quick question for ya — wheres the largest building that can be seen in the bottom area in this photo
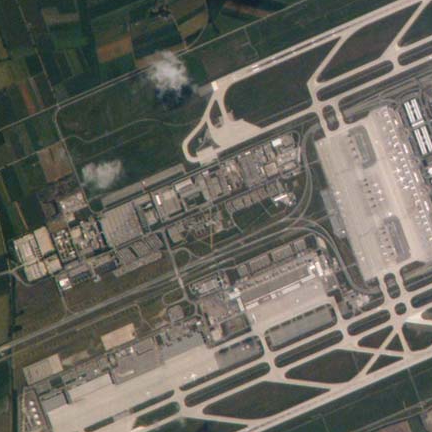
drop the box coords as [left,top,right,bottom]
[239,263,313,303]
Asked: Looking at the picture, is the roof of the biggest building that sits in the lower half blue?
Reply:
No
